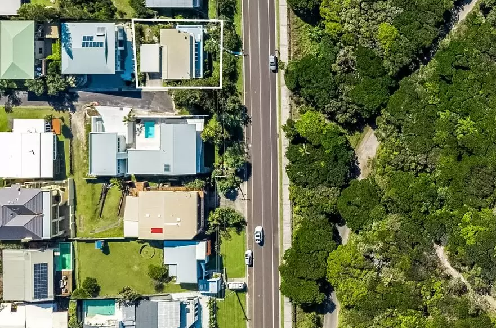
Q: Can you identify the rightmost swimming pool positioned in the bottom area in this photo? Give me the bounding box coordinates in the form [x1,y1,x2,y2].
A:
[85,298,117,319]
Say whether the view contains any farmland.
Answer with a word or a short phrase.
No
